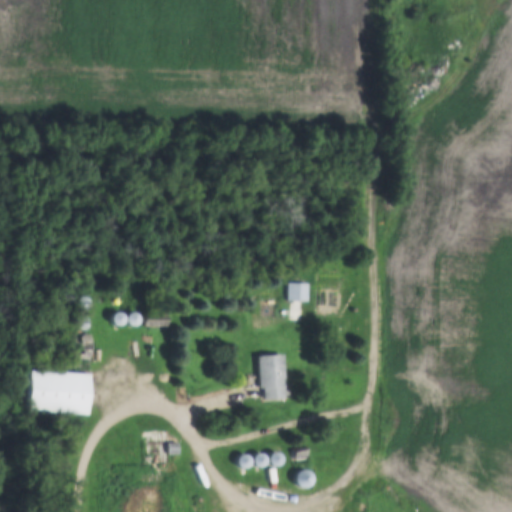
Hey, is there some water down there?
No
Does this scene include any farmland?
Yes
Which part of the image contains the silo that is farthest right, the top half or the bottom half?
bottom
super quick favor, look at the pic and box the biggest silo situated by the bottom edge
[297,469,316,489]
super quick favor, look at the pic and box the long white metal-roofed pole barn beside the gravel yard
[30,370,94,416]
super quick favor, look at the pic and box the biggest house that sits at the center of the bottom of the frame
[258,354,290,401]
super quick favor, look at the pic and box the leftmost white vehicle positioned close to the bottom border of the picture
[196,462,210,490]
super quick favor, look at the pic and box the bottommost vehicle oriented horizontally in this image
[258,490,298,504]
